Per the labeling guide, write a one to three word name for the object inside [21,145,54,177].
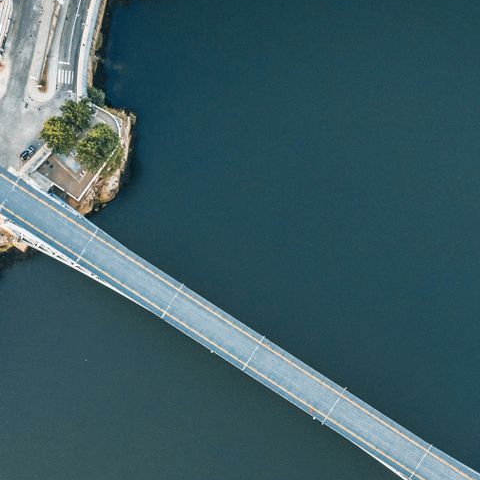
building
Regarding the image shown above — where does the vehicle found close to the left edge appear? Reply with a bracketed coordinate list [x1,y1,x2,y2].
[20,145,35,159]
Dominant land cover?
water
